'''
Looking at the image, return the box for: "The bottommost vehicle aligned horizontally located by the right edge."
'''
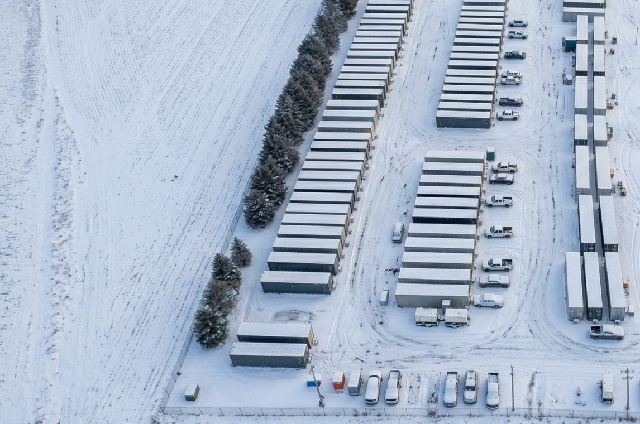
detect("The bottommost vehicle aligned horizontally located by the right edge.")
[588,325,625,340]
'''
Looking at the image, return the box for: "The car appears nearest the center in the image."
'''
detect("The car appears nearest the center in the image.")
[391,222,404,243]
